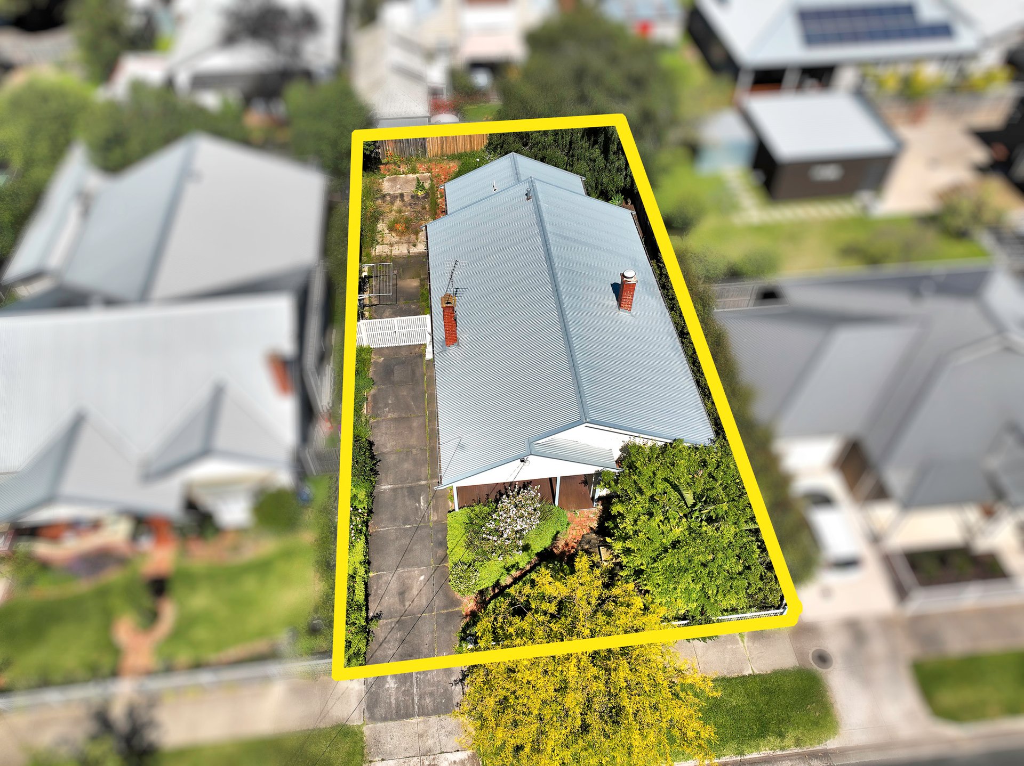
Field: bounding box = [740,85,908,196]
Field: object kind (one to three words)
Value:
shed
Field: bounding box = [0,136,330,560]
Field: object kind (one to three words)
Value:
house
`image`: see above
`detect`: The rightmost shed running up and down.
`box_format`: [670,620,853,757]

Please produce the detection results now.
[980,96,1024,189]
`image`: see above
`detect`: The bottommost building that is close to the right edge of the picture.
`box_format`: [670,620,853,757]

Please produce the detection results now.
[714,236,1024,543]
